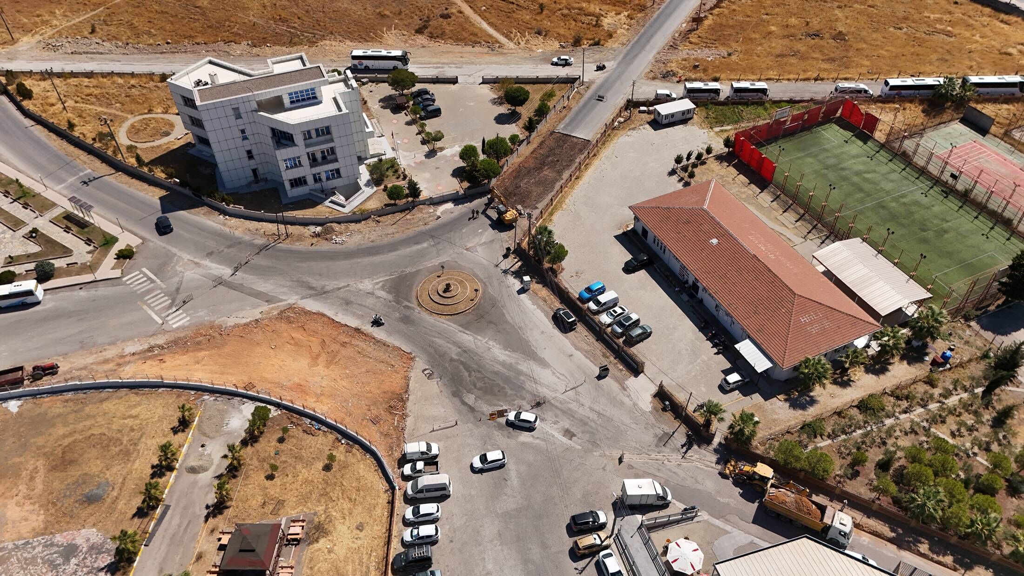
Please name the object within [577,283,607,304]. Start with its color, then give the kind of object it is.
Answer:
blue car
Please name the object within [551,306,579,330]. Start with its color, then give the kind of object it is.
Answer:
black car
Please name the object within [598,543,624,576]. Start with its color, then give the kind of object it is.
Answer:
white car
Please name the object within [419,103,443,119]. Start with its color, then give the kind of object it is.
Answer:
black vehicle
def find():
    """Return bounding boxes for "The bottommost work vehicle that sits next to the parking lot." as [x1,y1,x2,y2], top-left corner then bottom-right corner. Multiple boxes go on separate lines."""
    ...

[492,193,519,231]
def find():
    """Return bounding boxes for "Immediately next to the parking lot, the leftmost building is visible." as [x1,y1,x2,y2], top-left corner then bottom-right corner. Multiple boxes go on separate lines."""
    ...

[167,53,368,196]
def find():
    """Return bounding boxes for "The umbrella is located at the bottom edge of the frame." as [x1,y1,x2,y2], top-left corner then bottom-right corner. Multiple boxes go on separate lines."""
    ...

[666,539,704,576]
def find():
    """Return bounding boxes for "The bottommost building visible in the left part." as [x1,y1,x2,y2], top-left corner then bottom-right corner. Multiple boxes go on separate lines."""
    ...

[220,524,285,576]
